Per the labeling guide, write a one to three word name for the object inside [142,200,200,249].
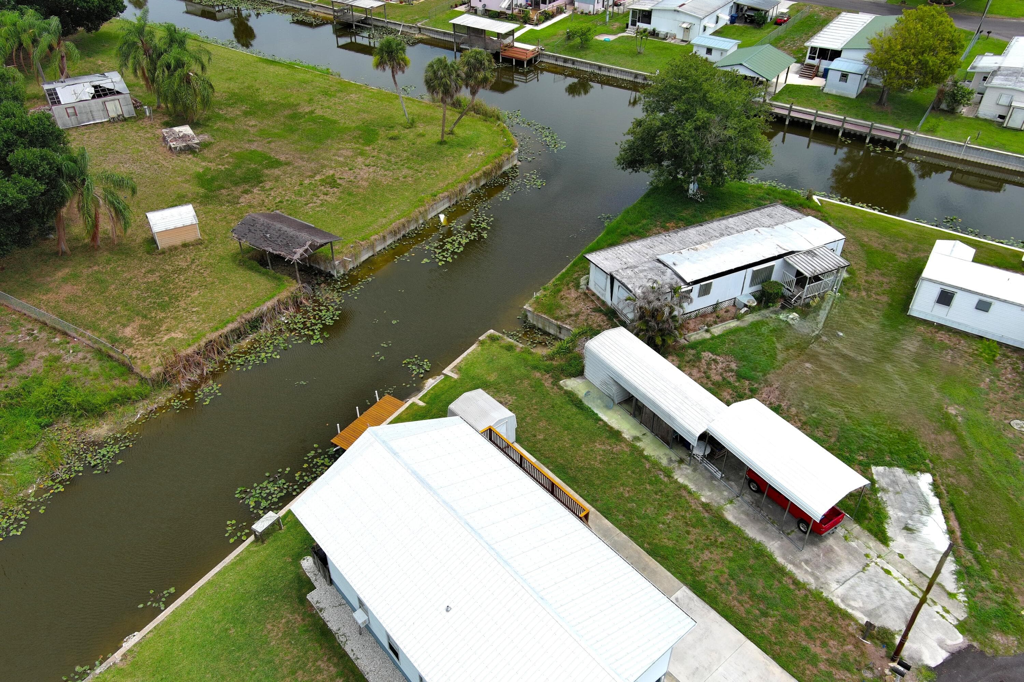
shed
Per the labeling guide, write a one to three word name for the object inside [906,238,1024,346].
house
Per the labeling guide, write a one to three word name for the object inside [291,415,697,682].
house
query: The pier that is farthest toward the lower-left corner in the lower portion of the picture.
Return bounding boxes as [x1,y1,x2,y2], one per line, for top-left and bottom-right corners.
[330,390,405,460]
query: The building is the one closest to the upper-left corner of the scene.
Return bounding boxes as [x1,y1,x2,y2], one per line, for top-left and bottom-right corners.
[45,74,136,126]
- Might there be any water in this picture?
Yes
